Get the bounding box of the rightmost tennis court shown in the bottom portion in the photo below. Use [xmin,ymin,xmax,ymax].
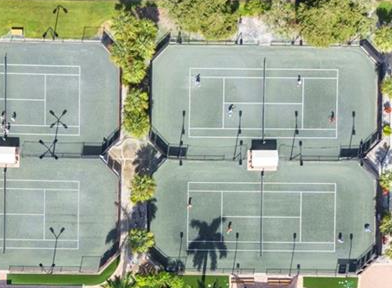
[150,159,376,270]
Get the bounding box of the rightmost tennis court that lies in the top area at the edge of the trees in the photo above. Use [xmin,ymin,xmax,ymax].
[150,45,377,158]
